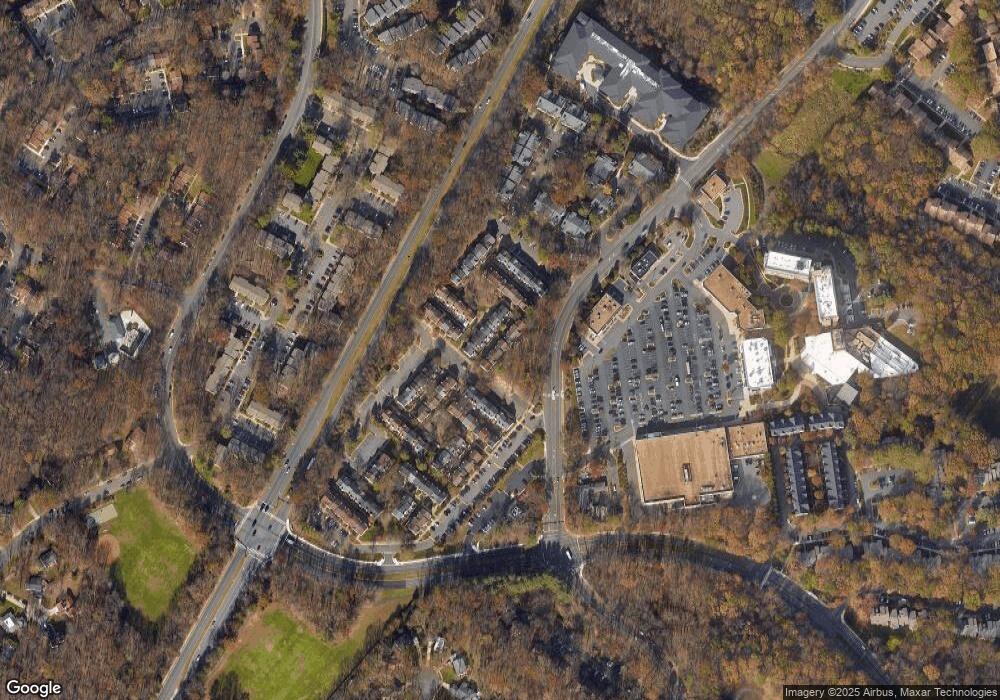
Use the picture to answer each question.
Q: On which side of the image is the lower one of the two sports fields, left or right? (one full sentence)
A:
You can find the lower one of the two sports fields on the left side of the picture.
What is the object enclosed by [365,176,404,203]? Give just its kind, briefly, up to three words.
building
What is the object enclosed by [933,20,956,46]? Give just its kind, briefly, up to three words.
house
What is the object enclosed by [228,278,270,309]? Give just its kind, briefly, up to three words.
building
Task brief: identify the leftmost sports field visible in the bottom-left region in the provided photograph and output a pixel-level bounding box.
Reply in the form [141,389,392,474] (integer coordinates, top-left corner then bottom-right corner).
[93,485,193,618]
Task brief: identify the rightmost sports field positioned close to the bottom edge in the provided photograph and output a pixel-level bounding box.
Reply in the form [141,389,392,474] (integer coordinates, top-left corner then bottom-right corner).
[204,581,413,700]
